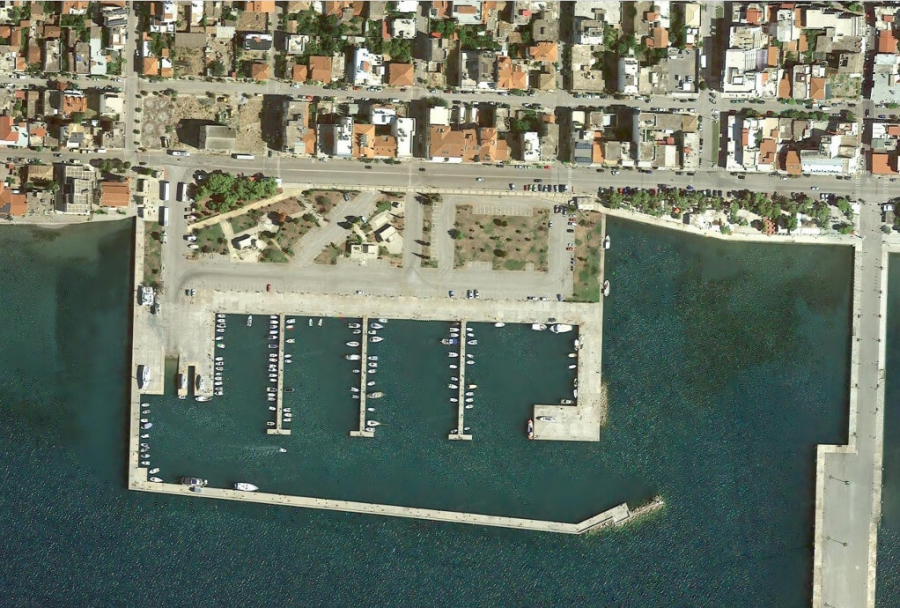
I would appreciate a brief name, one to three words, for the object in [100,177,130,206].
house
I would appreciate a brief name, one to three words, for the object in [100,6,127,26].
building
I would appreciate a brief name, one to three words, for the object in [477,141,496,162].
house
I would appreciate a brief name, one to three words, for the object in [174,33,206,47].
shed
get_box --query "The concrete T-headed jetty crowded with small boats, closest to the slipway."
[266,315,291,435]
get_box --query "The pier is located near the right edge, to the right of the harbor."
[811,236,887,608]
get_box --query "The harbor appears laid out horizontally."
[127,285,610,489]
